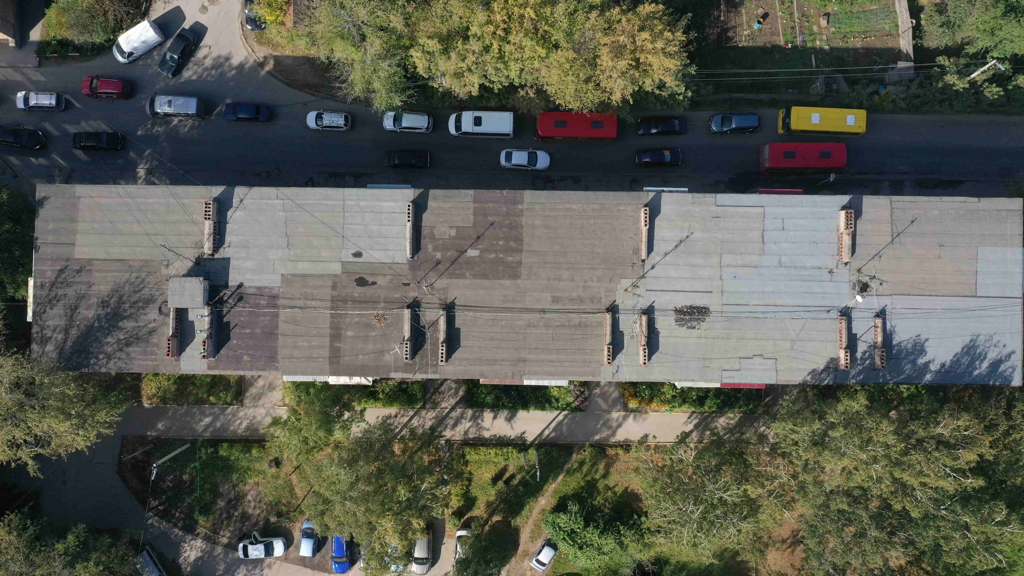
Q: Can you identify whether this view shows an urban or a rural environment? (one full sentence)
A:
The area is urban.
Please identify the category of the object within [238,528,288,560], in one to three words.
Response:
car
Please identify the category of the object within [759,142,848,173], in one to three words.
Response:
vehicle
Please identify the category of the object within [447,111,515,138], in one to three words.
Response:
vehicle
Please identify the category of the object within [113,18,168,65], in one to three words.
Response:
van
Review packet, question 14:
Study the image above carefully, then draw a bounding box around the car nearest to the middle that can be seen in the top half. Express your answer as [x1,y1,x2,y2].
[501,147,551,171]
